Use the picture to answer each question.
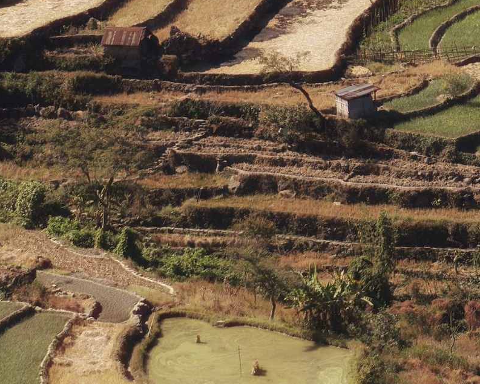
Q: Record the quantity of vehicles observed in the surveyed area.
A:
0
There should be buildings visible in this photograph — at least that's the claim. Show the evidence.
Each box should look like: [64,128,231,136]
[99,24,148,70]
[337,79,386,117]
